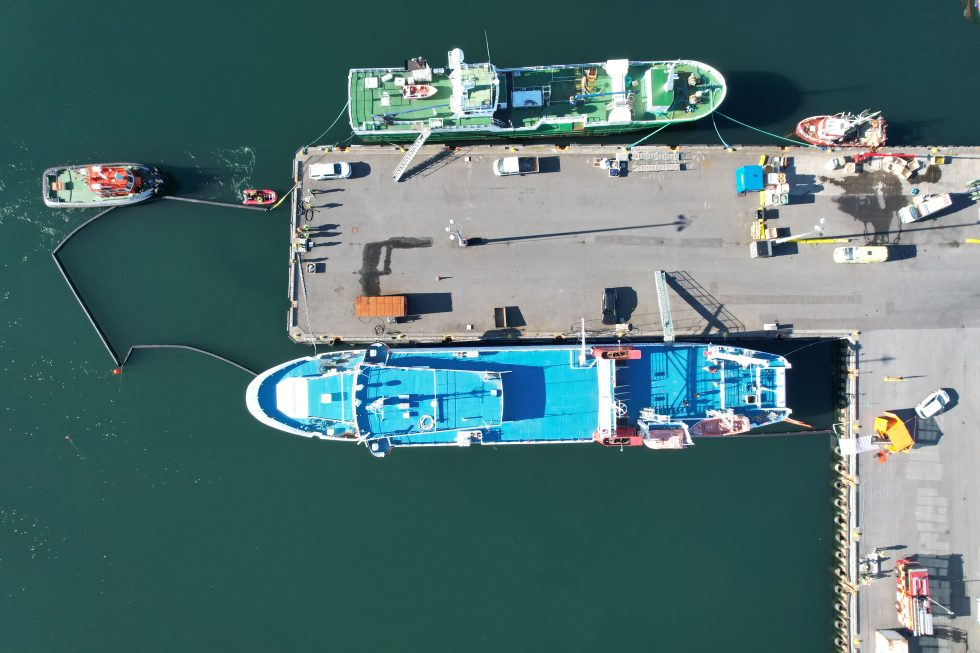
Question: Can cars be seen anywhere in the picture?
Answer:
Yes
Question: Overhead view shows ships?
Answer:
Yes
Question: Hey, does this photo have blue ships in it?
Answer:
Yes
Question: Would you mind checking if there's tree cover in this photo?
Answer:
No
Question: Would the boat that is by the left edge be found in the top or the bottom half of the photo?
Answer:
top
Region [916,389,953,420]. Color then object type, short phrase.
white car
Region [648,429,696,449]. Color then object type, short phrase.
white boat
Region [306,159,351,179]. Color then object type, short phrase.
white vehicle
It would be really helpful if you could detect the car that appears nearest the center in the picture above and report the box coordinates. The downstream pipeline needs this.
[602,287,621,325]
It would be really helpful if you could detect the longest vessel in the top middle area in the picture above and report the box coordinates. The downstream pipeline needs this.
[346,31,727,146]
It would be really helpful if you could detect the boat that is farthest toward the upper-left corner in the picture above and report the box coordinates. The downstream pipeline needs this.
[42,161,171,210]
